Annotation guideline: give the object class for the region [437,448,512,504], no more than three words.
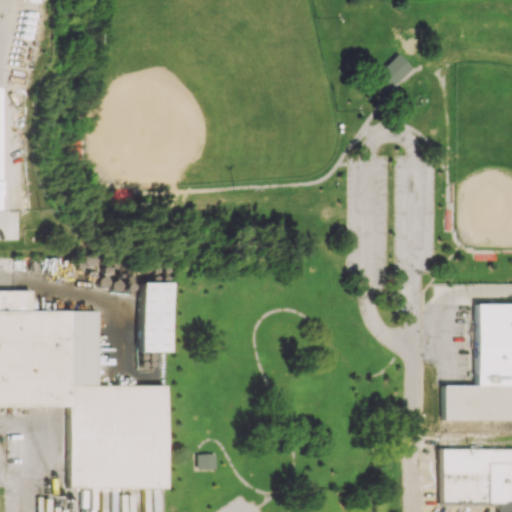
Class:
building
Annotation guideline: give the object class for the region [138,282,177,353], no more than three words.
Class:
building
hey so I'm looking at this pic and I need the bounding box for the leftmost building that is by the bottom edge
[65,386,166,488]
